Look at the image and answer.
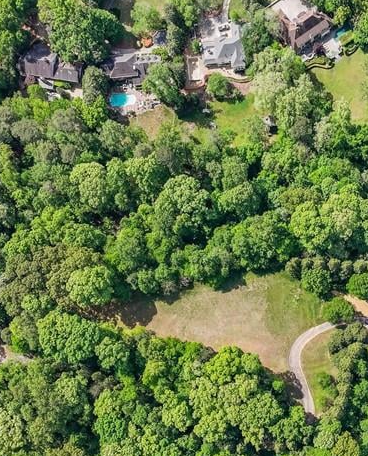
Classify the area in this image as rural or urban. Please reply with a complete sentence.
The area shown here is rural.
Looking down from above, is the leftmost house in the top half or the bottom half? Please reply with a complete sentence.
The top half of the photo is where the leftmost house is.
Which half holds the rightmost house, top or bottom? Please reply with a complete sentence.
It is in the top half that the rightmost house appears.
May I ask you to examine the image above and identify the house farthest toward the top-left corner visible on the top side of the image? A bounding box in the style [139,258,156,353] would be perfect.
[22,45,83,86]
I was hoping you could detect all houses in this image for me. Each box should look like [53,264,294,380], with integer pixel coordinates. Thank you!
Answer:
[277,7,333,58]
[109,49,161,85]
[203,19,246,75]
[22,45,83,86]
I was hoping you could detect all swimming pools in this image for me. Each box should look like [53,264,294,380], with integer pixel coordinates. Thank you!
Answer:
[334,27,349,42]
[108,92,136,108]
